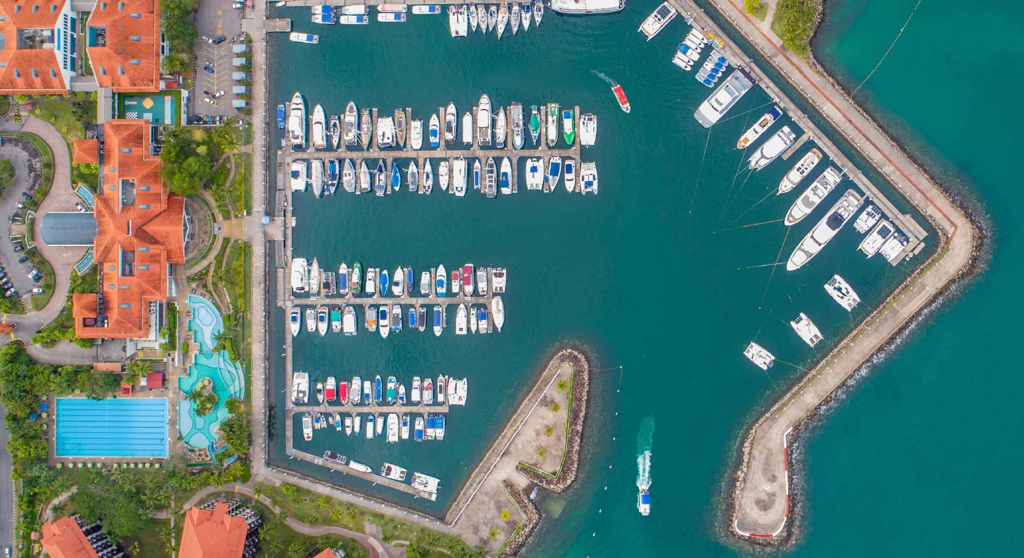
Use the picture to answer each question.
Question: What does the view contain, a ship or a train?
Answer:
ship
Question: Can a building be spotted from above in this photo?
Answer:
Yes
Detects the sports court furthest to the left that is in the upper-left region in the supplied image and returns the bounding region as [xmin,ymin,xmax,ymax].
[114,88,182,127]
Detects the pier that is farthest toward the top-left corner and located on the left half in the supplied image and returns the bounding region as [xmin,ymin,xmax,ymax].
[267,18,292,32]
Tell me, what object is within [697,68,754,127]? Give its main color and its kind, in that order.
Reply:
white ship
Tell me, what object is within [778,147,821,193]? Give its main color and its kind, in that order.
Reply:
white boat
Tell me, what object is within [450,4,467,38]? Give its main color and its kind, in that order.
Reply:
white boat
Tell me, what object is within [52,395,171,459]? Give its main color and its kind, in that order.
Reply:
blue swimming pool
